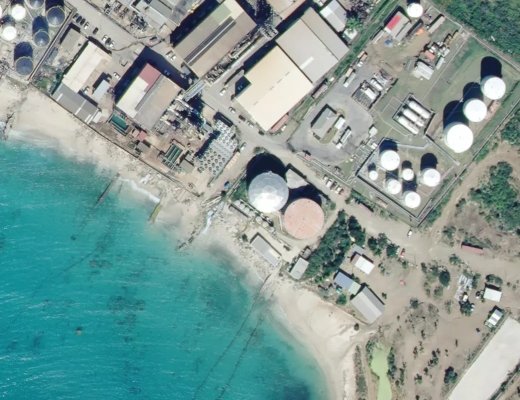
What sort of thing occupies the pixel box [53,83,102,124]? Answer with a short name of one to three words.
shed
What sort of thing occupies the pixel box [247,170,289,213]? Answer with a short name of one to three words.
storage tank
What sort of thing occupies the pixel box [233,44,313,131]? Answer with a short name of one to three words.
building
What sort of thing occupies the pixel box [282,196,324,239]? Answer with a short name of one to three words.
storage tank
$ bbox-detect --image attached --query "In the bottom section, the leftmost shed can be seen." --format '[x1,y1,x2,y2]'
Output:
[250,234,282,266]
